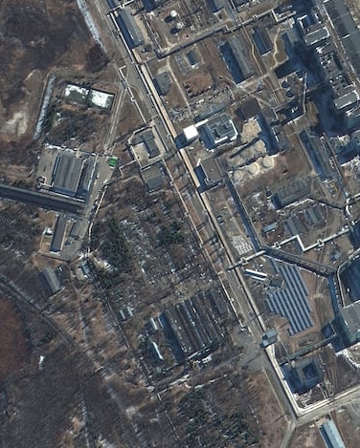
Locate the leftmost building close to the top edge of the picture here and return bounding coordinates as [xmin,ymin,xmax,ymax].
[120,7,144,48]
